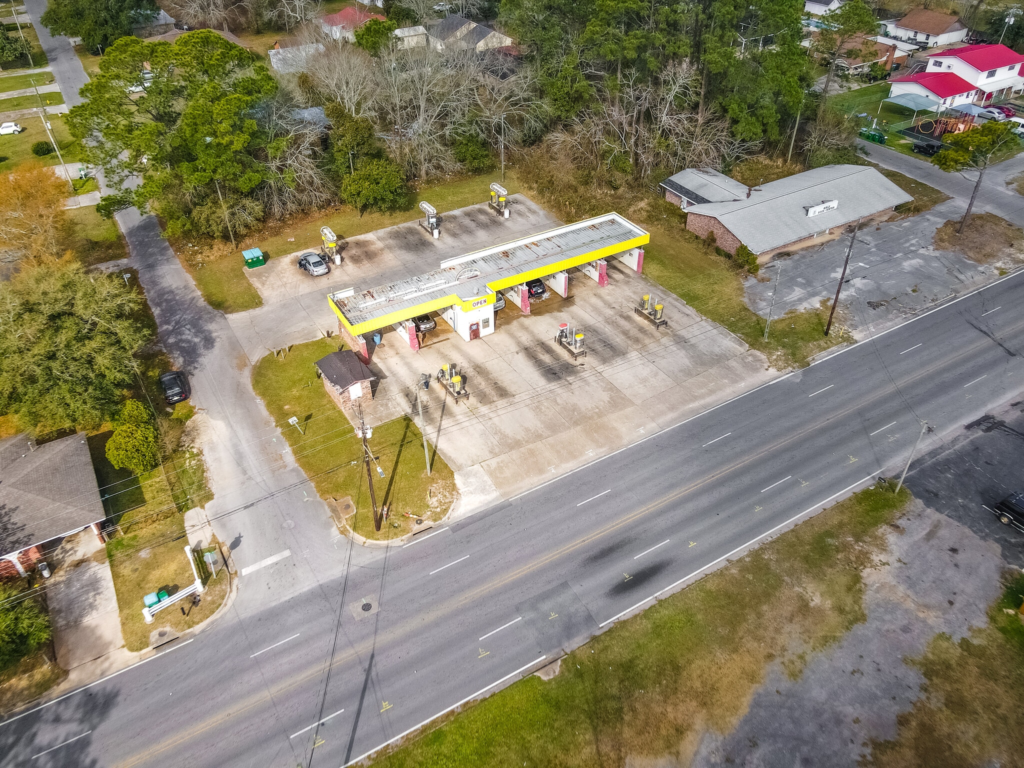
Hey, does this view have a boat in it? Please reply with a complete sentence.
No, I can see no boat in this picture.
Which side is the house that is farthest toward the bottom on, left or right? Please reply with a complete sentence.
You can find the house that is farthest toward the bottom on the left side of the picture.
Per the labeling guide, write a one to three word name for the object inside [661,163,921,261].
building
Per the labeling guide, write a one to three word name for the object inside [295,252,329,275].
car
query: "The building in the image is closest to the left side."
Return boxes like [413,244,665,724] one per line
[0,426,111,589]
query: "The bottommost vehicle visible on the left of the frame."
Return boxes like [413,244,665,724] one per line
[153,364,189,398]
